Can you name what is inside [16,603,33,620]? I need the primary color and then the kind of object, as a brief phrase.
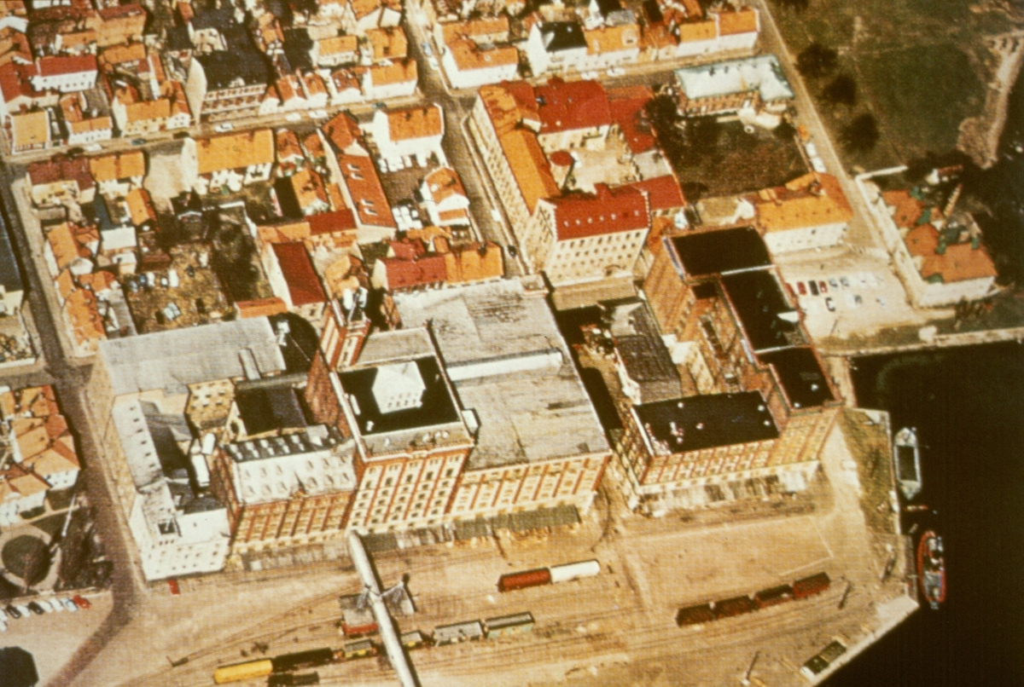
white car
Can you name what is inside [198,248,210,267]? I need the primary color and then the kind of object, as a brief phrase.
white vehicle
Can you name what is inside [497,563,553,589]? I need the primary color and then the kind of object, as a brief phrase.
red rail car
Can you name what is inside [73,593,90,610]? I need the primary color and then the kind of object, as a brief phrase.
red car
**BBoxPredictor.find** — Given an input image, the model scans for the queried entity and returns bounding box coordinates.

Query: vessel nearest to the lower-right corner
[918,528,947,612]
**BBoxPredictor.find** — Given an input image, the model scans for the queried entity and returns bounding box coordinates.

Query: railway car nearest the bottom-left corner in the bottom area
[213,654,275,683]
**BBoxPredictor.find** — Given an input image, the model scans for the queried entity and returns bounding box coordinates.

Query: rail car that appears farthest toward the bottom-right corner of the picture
[792,570,834,595]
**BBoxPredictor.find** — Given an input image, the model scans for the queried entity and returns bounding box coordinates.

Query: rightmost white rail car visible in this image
[550,553,603,579]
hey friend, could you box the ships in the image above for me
[918,528,947,612]
[892,427,921,505]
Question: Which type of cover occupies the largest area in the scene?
buildings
